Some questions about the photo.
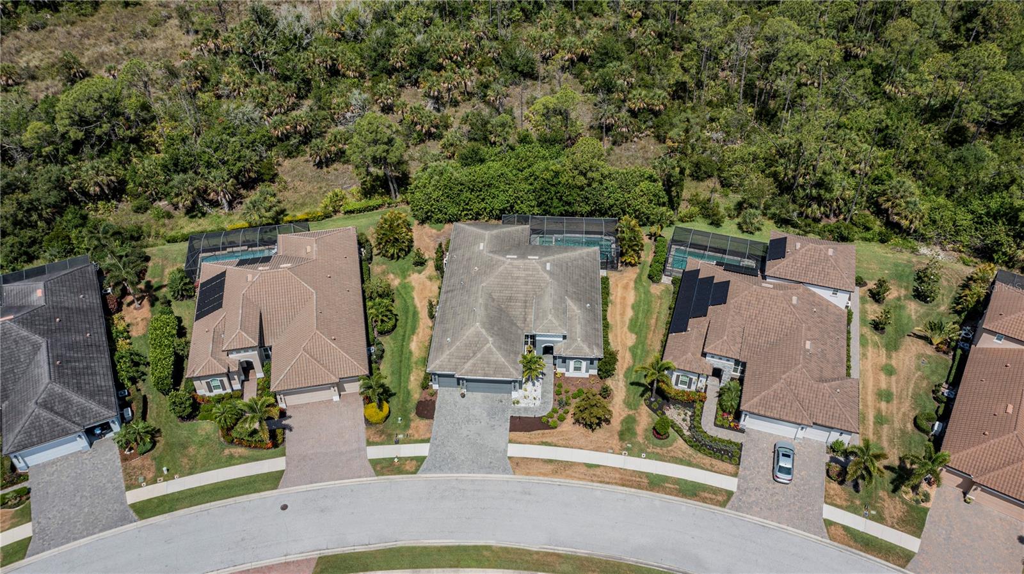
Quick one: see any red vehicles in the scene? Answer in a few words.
No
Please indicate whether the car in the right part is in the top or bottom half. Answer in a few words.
bottom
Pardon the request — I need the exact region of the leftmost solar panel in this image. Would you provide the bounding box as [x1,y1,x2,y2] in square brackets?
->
[194,269,227,321]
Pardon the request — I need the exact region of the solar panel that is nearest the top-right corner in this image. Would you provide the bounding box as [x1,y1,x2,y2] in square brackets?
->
[767,237,786,261]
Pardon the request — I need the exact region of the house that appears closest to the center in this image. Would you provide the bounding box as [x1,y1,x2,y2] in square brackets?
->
[426,222,606,397]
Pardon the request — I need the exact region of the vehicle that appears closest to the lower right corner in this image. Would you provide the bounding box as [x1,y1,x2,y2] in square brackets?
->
[772,440,798,485]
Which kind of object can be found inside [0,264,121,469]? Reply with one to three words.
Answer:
house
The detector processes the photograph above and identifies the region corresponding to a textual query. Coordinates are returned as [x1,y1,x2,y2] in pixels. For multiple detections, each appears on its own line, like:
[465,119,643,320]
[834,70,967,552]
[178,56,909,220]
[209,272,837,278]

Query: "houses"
[0,264,121,469]
[426,222,606,397]
[186,224,370,407]
[663,229,860,447]
[936,281,1024,522]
